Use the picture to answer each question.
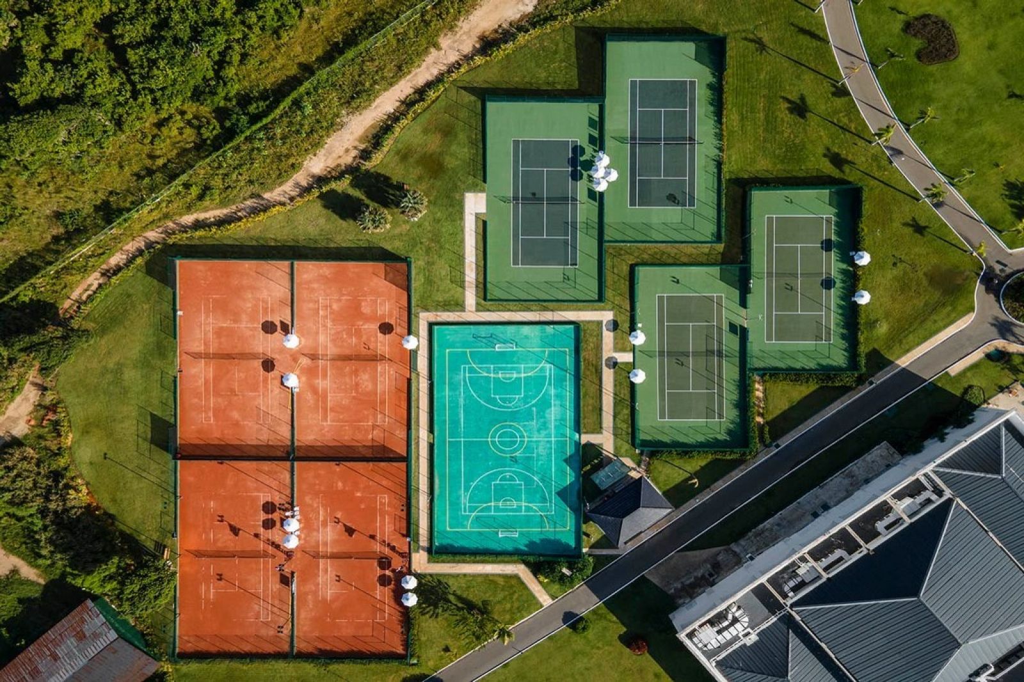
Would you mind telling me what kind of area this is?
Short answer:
sports ground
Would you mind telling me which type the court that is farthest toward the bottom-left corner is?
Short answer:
tennis court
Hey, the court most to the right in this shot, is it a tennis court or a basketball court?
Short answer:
tennis court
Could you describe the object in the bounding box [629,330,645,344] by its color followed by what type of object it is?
white umbrella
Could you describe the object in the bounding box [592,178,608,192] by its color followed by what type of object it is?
white umbrella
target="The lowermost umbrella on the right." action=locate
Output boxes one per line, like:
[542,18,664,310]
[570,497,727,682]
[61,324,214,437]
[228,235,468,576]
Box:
[628,368,645,383]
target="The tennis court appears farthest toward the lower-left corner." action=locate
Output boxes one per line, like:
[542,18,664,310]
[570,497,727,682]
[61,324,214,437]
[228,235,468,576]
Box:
[178,462,293,657]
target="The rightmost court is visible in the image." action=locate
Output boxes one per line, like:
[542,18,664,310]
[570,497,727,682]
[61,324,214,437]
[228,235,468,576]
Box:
[751,190,858,371]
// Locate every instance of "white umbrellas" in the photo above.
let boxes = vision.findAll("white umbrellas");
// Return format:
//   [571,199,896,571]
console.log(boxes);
[854,290,870,304]
[592,178,608,192]
[594,151,610,166]
[283,534,299,549]
[629,330,645,344]
[402,592,417,607]
[590,165,606,179]
[401,574,417,590]
[283,373,299,387]
[628,368,645,383]
[603,167,619,182]
[283,517,299,532]
[402,335,418,350]
[283,334,299,348]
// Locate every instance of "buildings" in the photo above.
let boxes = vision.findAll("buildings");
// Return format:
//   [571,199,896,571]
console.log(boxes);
[668,408,1024,682]
[0,597,161,682]
[587,475,674,549]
